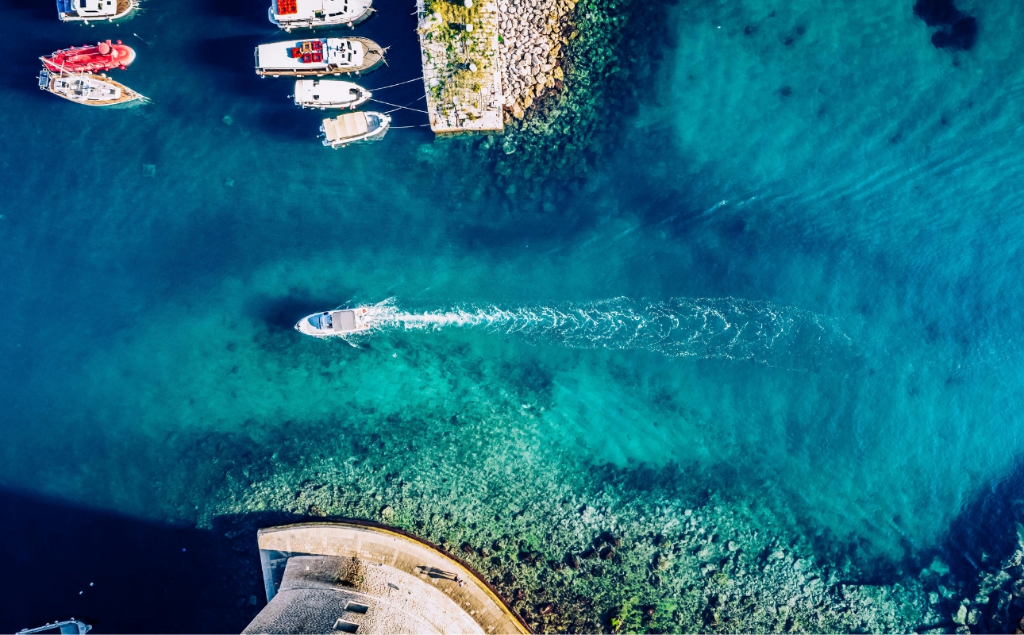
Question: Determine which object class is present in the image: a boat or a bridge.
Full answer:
The image shows a boat.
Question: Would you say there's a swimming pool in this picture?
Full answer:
No, there isn't any swimming pool down there.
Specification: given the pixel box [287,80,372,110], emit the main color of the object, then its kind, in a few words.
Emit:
white boat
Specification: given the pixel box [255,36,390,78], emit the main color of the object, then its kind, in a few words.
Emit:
white boat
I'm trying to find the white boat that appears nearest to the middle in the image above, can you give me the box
[294,308,373,338]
